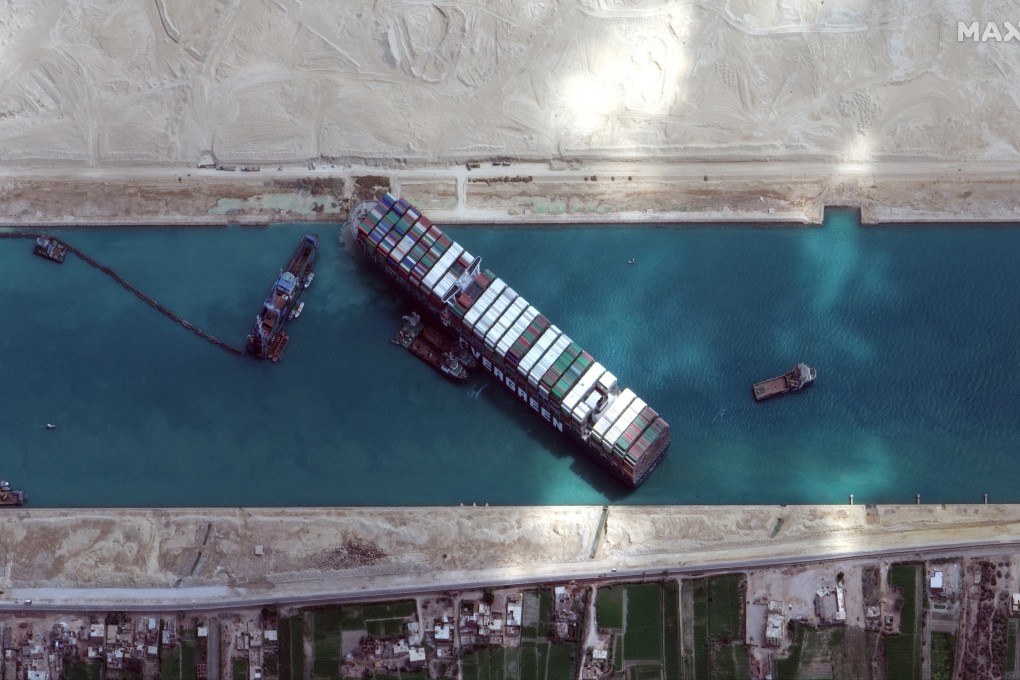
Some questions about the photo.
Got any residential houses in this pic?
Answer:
Yes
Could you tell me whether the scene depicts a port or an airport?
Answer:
port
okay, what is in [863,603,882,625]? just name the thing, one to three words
house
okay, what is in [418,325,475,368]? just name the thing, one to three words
vessel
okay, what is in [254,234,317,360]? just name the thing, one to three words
ship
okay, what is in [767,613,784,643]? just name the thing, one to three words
house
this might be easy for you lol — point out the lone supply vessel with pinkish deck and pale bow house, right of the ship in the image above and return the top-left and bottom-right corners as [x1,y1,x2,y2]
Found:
[753,365,815,401]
